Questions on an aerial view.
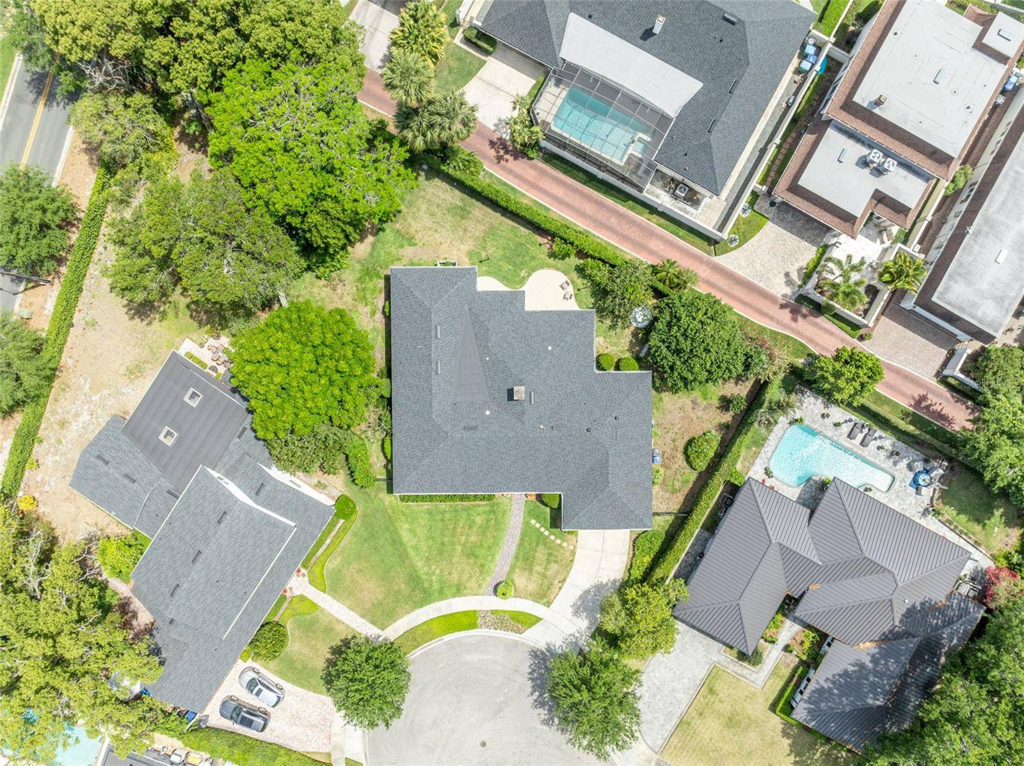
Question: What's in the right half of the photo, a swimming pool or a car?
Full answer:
It is a swimming pool that can be seen in the right half of the photo.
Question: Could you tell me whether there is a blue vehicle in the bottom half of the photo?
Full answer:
No, there's no blue vehicle to be seen in the bottom half of the photo.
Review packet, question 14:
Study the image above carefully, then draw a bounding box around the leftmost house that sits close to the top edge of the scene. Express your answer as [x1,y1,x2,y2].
[473,0,817,196]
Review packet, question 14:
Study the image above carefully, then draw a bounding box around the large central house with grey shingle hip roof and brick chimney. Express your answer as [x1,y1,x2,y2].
[389,265,653,531]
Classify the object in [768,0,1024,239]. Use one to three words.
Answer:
house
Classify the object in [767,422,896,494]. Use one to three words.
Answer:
swimming pool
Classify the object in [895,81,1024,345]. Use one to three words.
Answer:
house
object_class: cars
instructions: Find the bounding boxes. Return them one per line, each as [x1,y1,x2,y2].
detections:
[216,693,274,737]
[235,667,288,710]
